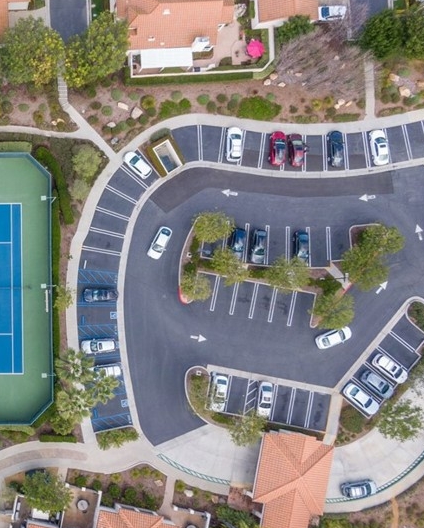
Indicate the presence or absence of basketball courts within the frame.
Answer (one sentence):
No, there appears to be no basketball court in this shot.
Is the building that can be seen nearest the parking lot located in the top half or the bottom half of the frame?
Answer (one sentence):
It is in the bottom half that the building that can be seen nearest the parking lot appears.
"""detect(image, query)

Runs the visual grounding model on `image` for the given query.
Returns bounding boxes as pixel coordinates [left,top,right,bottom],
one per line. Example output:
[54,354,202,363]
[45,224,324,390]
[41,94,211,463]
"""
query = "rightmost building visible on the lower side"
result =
[252,427,335,528]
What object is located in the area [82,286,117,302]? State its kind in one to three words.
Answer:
car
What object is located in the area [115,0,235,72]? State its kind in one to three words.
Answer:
house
